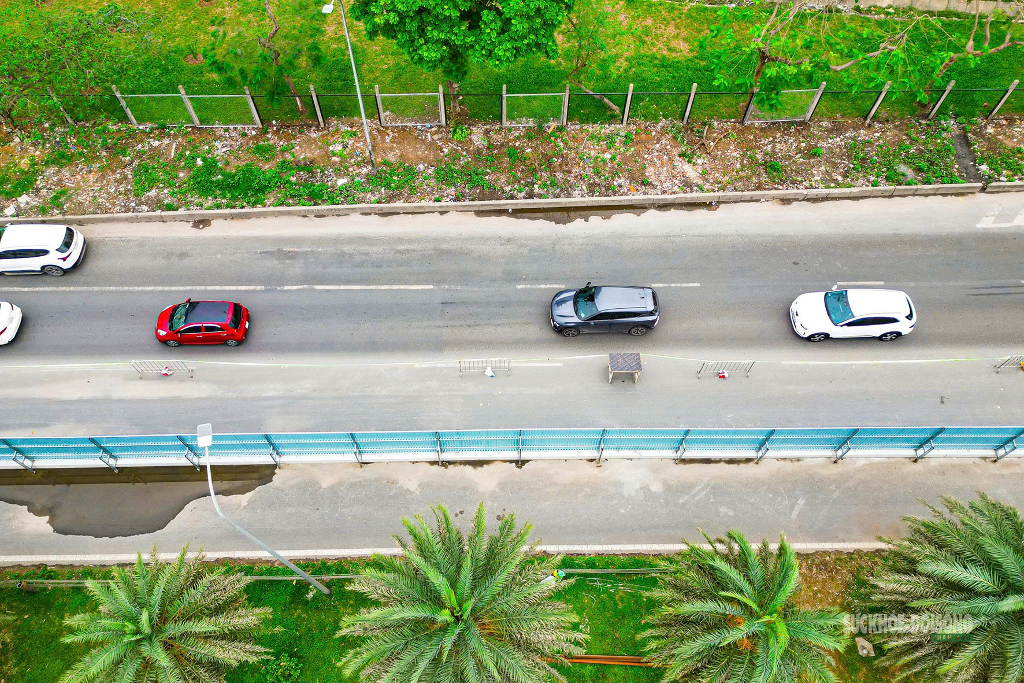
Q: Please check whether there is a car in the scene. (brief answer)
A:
Yes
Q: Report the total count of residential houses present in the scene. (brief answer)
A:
zero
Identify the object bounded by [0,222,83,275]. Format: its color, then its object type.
white car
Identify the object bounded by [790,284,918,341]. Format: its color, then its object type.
white car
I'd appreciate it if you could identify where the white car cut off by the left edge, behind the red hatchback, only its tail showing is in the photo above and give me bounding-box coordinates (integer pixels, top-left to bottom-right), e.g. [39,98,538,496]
[0,305,28,352]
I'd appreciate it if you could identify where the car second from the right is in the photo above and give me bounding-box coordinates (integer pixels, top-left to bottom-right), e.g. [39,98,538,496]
[549,282,661,336]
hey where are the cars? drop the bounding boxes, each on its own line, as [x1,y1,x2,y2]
[549,282,661,336]
[0,222,83,275]
[153,298,250,346]
[790,284,918,341]
[0,305,28,352]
